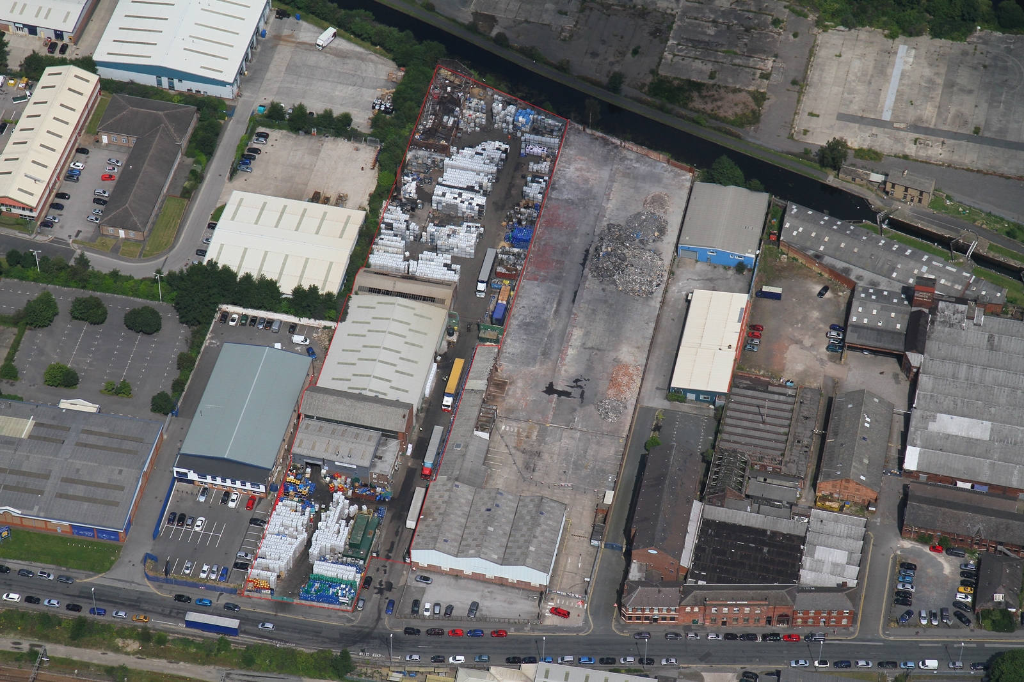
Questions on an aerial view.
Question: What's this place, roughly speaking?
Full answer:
The picture captures an industrial area.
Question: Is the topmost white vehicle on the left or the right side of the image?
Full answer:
You can find the topmost white vehicle on the left side of the picture.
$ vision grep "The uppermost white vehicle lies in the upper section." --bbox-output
[315,27,335,51]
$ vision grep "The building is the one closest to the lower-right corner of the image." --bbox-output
[974,543,1024,619]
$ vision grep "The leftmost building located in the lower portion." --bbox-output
[0,392,165,542]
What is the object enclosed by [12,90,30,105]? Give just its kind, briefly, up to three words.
vehicle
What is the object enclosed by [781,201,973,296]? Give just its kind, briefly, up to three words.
shed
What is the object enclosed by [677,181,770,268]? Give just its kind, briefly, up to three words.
building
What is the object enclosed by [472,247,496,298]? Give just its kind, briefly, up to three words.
truck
